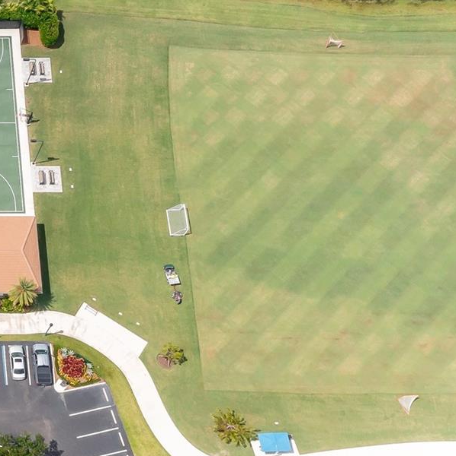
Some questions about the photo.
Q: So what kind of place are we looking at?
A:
sports ground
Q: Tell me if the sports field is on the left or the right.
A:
right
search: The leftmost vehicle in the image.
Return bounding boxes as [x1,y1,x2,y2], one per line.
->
[10,348,25,382]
